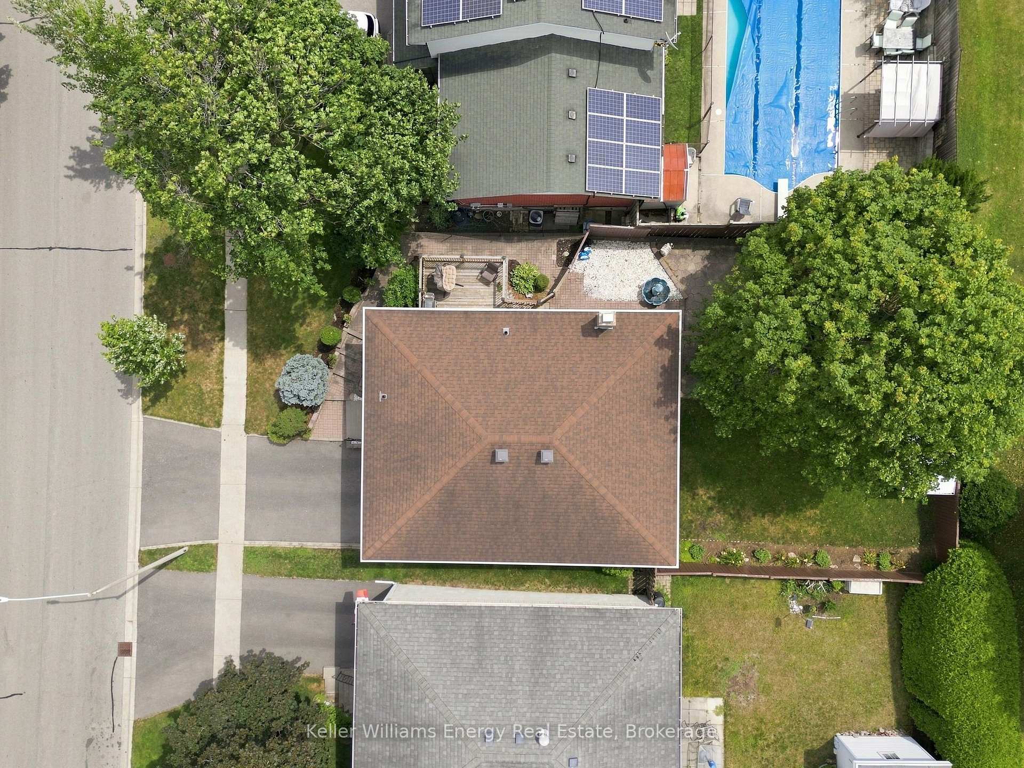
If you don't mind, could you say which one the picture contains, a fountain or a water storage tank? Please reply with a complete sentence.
The one in the frame is a fountain.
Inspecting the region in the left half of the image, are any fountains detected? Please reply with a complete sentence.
No, there's no fountain to be seen in the left half of the image.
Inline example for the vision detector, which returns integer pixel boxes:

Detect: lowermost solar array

[586,88,661,200]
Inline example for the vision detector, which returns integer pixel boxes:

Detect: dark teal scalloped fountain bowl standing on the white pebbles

[642,277,670,306]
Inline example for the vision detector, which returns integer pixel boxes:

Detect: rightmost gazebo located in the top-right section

[851,56,946,140]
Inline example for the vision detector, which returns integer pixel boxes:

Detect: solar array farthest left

[421,0,503,27]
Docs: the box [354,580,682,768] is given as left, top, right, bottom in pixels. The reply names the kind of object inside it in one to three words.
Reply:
house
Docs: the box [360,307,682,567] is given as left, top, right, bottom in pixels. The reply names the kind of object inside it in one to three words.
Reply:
house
